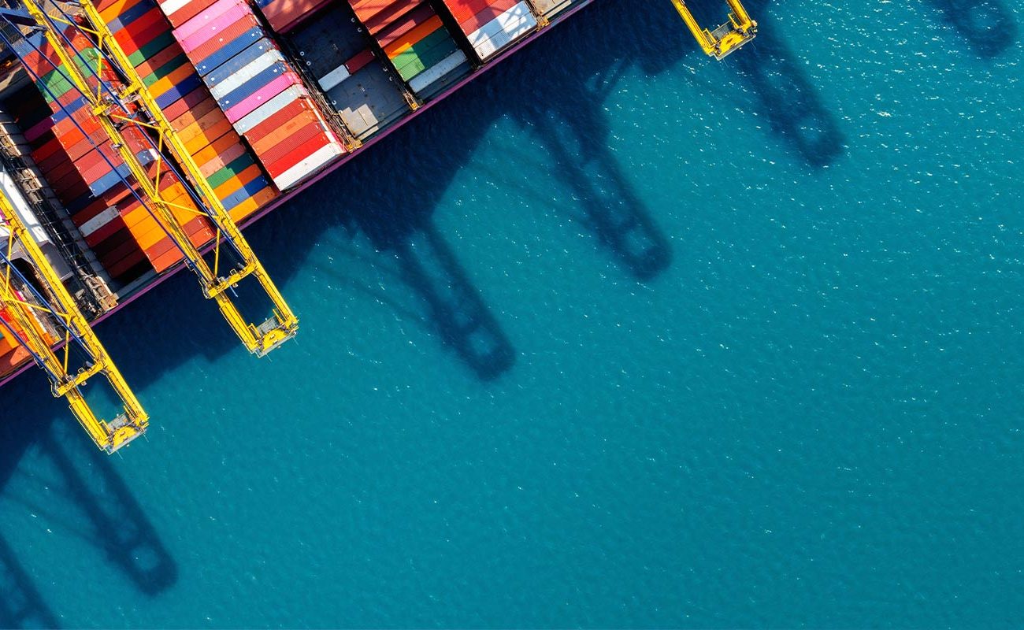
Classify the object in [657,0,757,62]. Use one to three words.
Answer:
container crane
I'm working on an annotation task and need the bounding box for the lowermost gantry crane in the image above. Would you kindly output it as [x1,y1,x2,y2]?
[0,188,151,461]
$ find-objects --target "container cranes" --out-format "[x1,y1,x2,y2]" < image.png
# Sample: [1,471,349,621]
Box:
[0,0,300,363]
[0,188,151,461]
[657,0,757,62]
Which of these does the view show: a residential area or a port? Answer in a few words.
port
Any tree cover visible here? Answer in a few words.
No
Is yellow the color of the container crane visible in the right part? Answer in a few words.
Yes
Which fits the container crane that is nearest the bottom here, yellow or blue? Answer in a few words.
yellow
